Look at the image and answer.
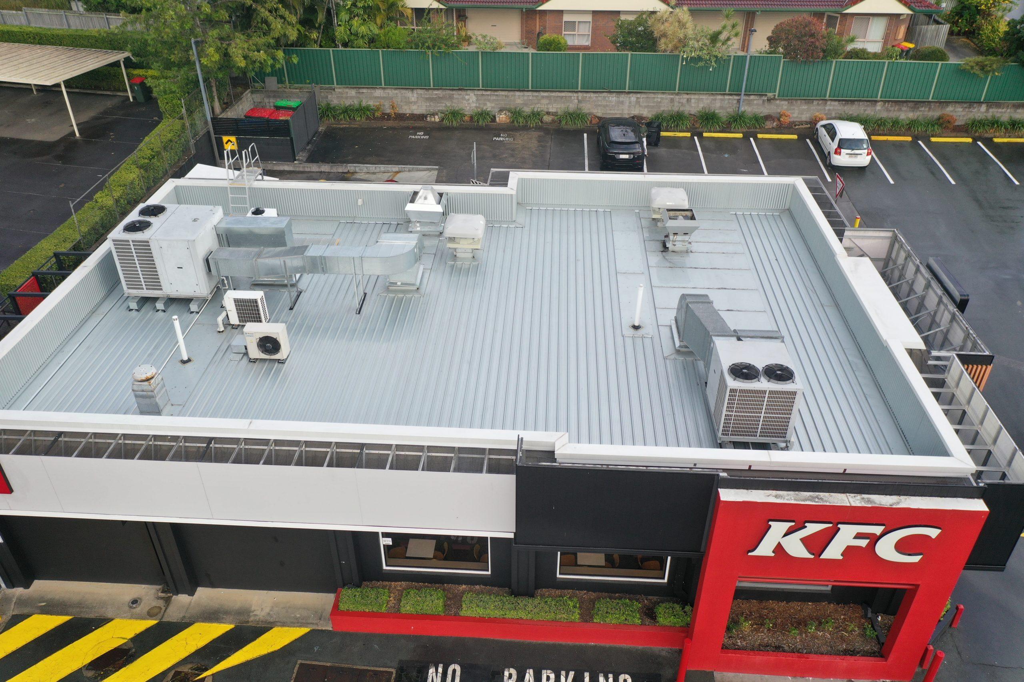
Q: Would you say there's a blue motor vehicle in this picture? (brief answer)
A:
No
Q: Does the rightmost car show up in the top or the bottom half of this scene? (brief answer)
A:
top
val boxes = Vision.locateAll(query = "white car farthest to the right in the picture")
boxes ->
[817,122,875,170]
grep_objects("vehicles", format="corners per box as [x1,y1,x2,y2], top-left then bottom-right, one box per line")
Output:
[598,116,668,169]
[817,122,875,170]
